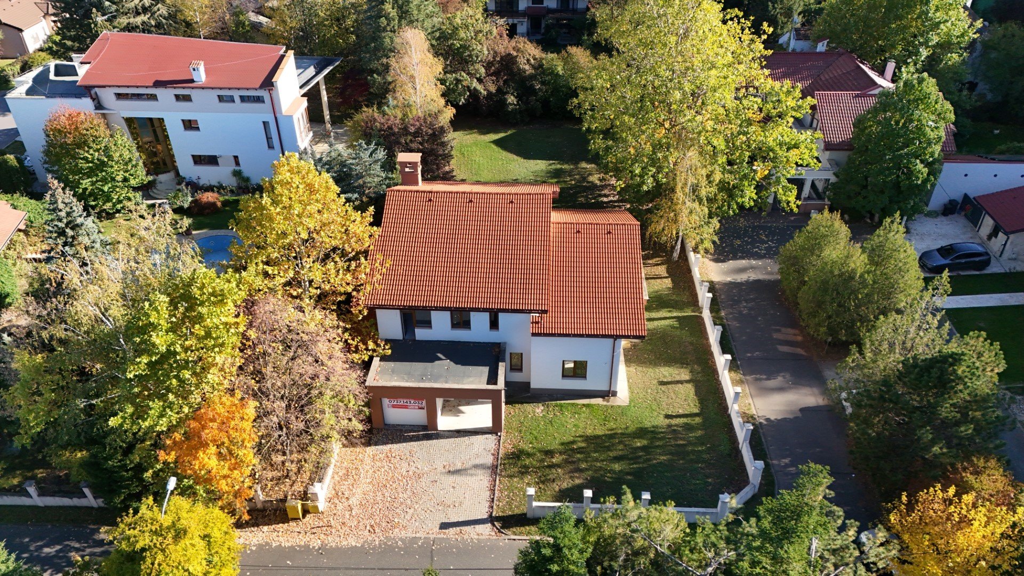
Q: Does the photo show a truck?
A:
No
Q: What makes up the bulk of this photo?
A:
trees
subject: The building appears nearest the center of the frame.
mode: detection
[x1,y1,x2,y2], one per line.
[365,156,647,432]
